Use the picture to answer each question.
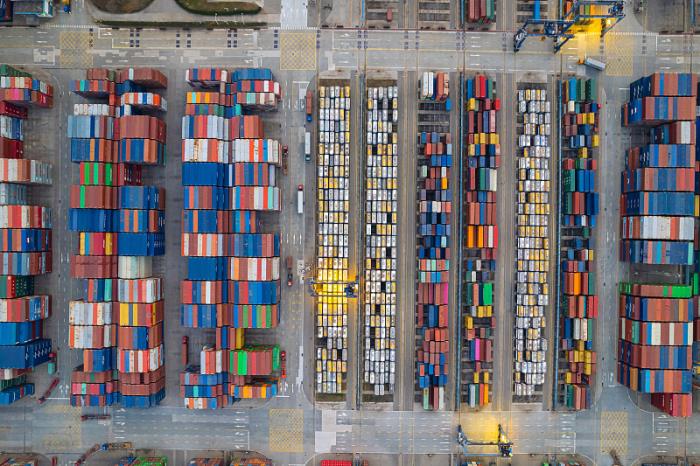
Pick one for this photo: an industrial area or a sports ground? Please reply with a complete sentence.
This looks like an industrial area.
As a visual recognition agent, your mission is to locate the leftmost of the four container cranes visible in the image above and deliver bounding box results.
[310,276,362,299]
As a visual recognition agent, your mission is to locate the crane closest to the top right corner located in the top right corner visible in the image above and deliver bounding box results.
[563,0,630,38]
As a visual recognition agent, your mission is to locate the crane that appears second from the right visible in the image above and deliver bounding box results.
[514,18,577,53]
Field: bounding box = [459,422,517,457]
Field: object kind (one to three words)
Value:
container crane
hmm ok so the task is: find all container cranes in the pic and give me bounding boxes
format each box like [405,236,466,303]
[310,276,362,299]
[514,18,577,53]
[563,0,630,38]
[459,422,517,457]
